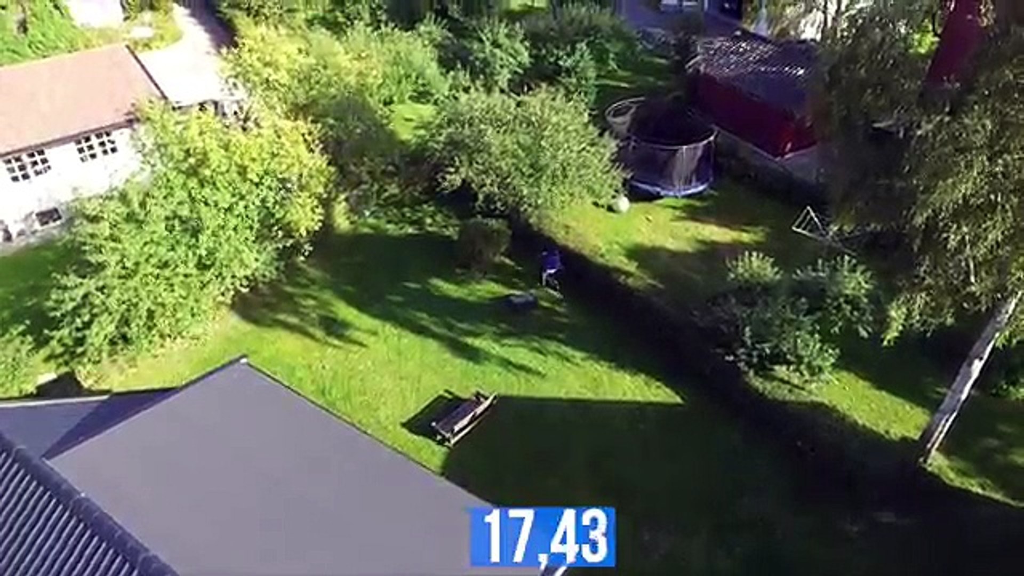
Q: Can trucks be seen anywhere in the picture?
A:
No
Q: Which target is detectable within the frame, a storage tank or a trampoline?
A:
trampoline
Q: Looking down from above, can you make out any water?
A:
No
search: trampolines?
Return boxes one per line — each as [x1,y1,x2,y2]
[629,107,721,195]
